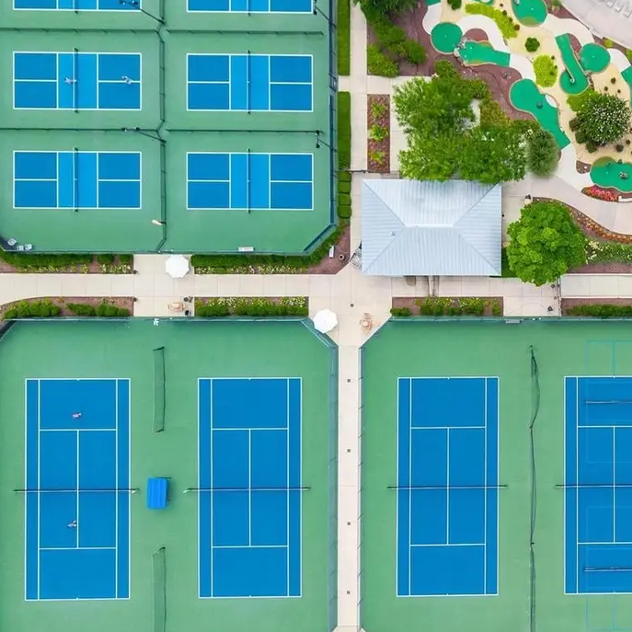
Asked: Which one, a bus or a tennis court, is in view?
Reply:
tennis court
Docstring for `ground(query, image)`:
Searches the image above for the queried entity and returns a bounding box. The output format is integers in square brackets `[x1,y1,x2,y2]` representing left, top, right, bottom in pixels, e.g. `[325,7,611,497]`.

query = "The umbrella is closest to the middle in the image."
[313,309,338,333]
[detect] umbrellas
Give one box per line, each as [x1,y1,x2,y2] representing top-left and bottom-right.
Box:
[167,254,192,278]
[313,309,338,333]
